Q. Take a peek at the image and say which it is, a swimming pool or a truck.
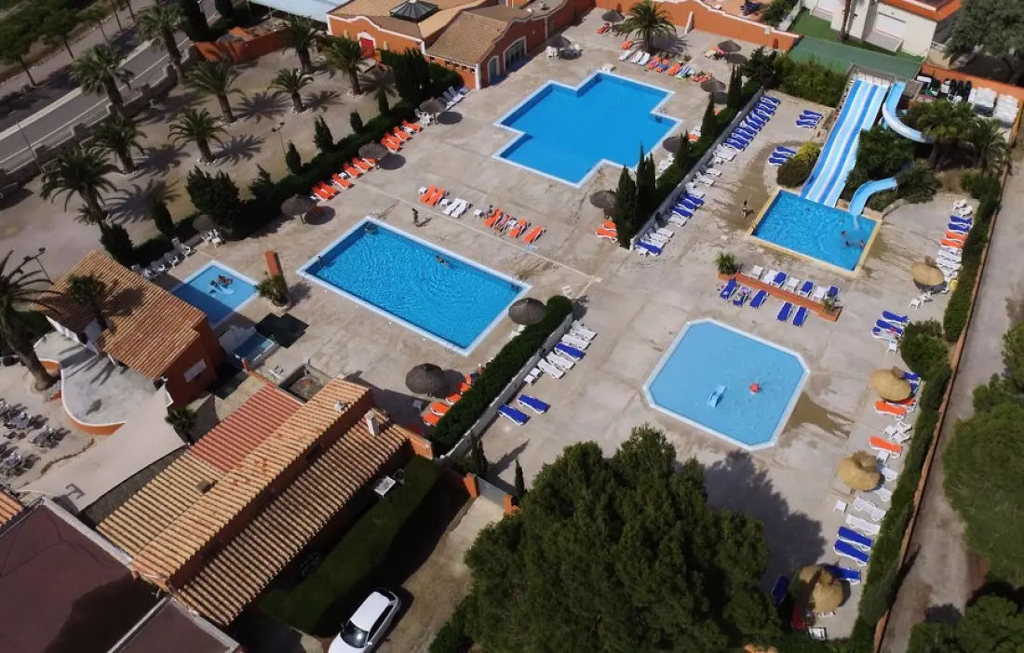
swimming pool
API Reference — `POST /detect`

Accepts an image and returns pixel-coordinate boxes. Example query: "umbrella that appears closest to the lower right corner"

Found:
[796,571,846,617]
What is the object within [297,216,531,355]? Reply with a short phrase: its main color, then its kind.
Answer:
blue swimming pool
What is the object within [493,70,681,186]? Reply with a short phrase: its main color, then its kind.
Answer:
blue swimming pool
